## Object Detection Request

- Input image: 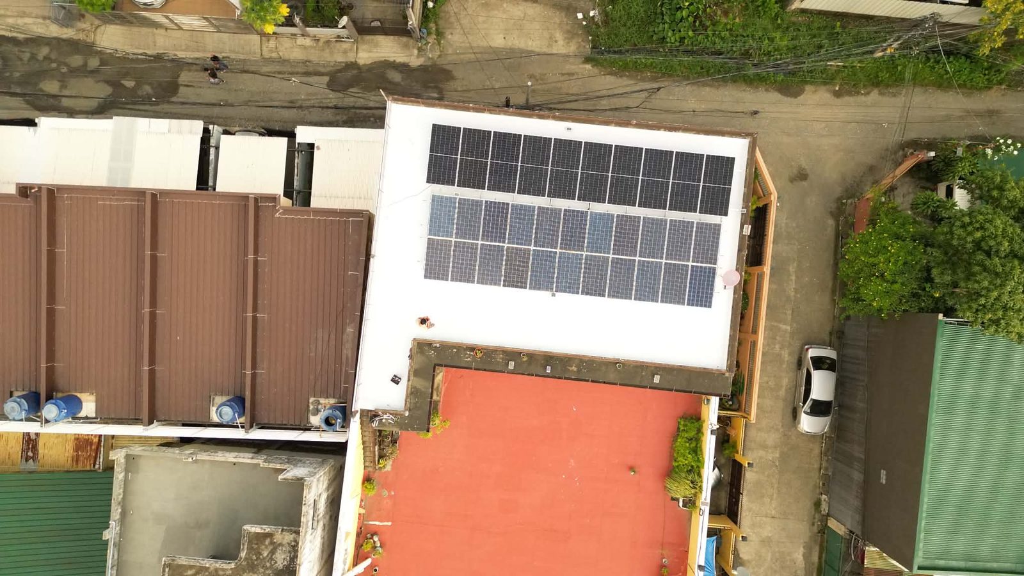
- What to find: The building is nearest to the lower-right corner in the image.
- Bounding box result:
[829,308,1024,576]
